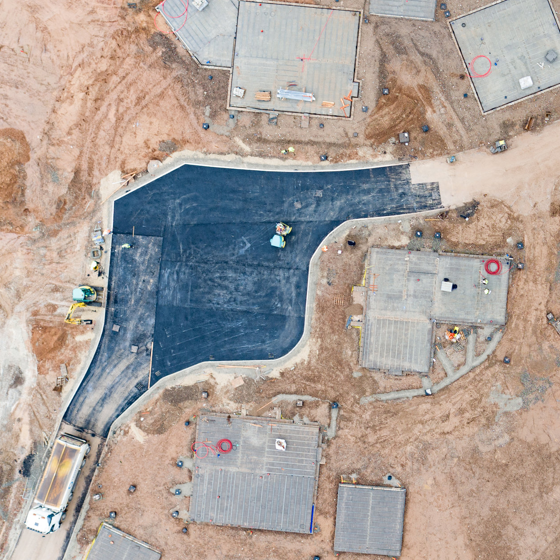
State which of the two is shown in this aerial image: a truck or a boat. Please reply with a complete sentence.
Looking from above, you can make out a truck.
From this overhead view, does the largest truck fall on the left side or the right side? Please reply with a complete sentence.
The largest truck is on the left side of the image.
